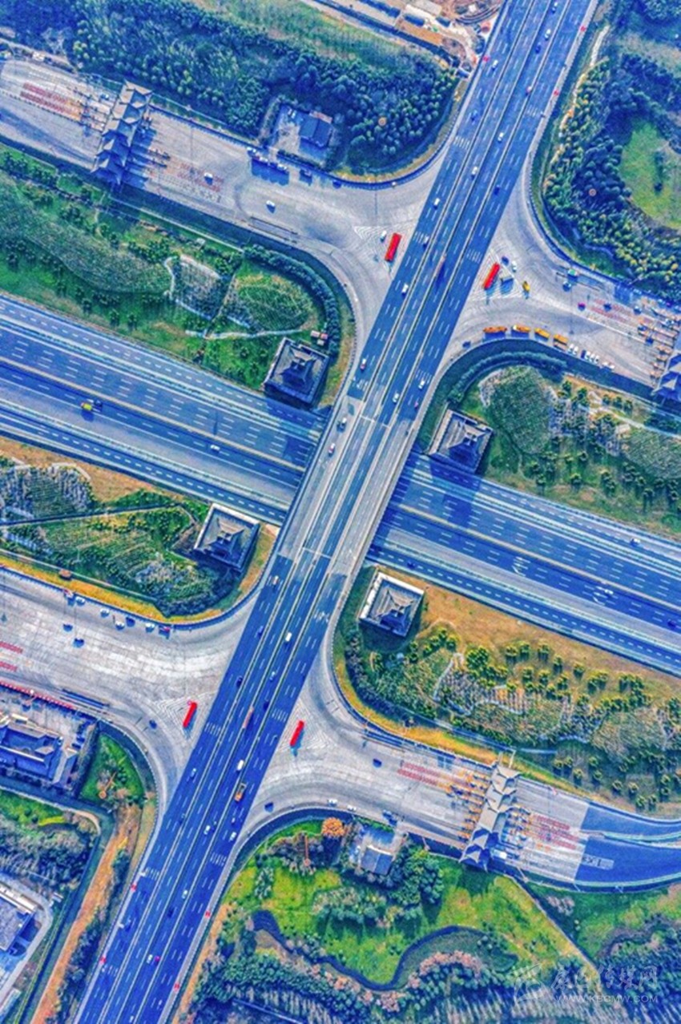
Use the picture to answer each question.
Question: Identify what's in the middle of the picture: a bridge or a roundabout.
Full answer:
It is a bridge that can be seen in the middle of the picture.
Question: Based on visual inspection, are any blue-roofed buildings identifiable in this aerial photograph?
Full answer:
Yes, a blue-roofed building can be made out from above.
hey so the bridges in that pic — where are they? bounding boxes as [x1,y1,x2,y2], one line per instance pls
[280,416,409,563]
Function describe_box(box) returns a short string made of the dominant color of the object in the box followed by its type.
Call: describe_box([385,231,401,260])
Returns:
red vehicle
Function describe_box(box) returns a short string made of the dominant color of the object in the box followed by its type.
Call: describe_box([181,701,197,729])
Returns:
red vehicle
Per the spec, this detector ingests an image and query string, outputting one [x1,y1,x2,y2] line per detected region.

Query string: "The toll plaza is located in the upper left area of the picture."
[83,70,159,189]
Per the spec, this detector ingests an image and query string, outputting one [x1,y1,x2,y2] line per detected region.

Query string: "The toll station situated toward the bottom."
[434,760,540,878]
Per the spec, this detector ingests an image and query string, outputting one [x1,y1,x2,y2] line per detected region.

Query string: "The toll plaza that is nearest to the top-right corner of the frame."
[630,289,681,403]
